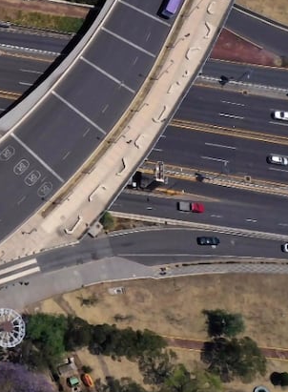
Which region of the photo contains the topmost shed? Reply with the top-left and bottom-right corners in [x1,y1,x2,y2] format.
[54,351,81,378]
